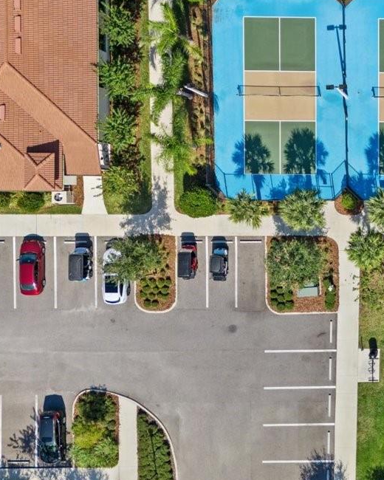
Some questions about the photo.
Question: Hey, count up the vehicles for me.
6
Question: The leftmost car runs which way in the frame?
vertically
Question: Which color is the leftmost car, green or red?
red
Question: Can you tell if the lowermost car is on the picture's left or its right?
left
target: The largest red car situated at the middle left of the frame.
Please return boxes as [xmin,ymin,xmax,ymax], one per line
[15,239,45,297]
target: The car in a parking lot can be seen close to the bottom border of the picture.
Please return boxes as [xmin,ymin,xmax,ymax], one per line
[35,411,66,467]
